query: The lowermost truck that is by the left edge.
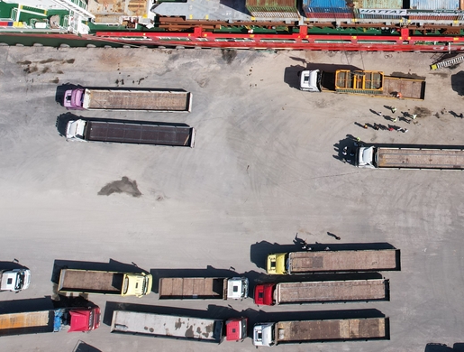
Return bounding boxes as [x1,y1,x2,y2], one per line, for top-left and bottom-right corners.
[0,302,110,335]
